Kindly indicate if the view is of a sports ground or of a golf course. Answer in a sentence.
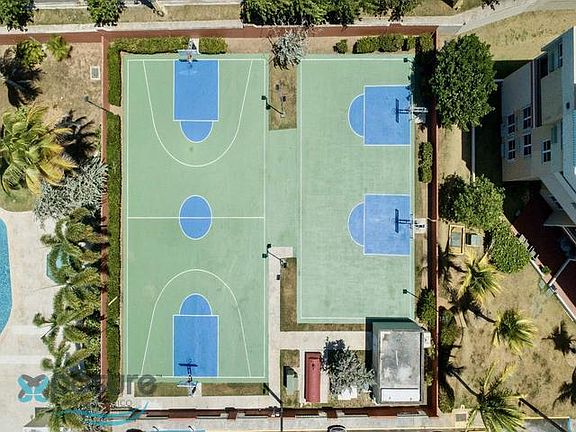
The picture captures a sports ground.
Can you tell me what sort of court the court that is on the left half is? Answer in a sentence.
I'd identify the court that is on the left half as a basketball court.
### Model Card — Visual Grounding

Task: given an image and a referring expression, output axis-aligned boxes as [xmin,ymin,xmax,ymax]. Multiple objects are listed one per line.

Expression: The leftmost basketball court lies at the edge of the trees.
[123,53,297,383]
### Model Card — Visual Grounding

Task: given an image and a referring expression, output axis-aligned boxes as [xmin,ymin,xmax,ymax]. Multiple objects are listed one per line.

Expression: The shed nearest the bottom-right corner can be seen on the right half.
[373,323,426,406]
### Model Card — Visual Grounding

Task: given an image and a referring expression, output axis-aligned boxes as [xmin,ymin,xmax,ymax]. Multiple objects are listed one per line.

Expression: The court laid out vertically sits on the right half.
[297,53,413,322]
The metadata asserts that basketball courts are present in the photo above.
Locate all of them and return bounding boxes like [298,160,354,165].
[297,53,413,322]
[123,53,297,383]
